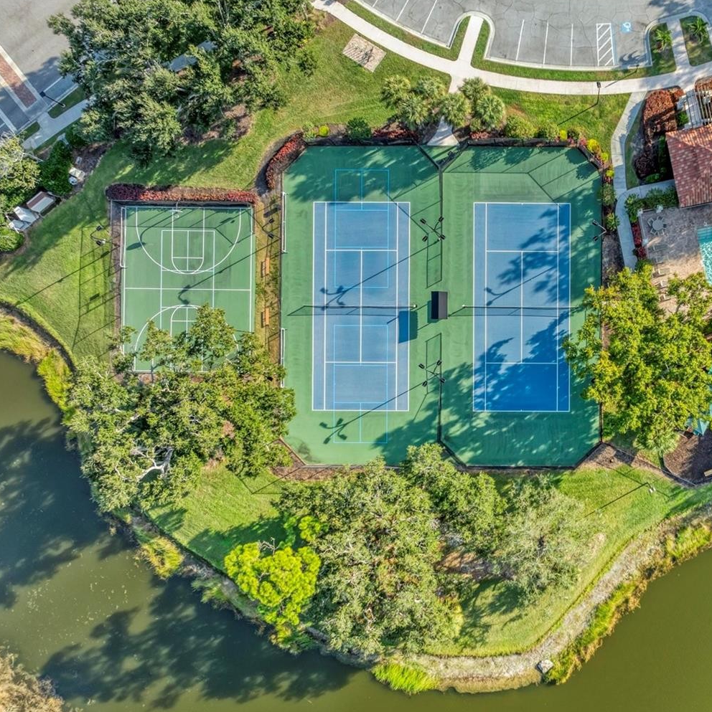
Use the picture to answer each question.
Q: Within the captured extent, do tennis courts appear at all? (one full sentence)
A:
Yes, there is a tennis court in the image.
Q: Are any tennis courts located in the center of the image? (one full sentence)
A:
Yes, in the center of the image there is a tennis court.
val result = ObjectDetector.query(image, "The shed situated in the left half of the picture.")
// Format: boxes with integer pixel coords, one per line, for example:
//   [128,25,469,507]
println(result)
[22,191,53,212]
